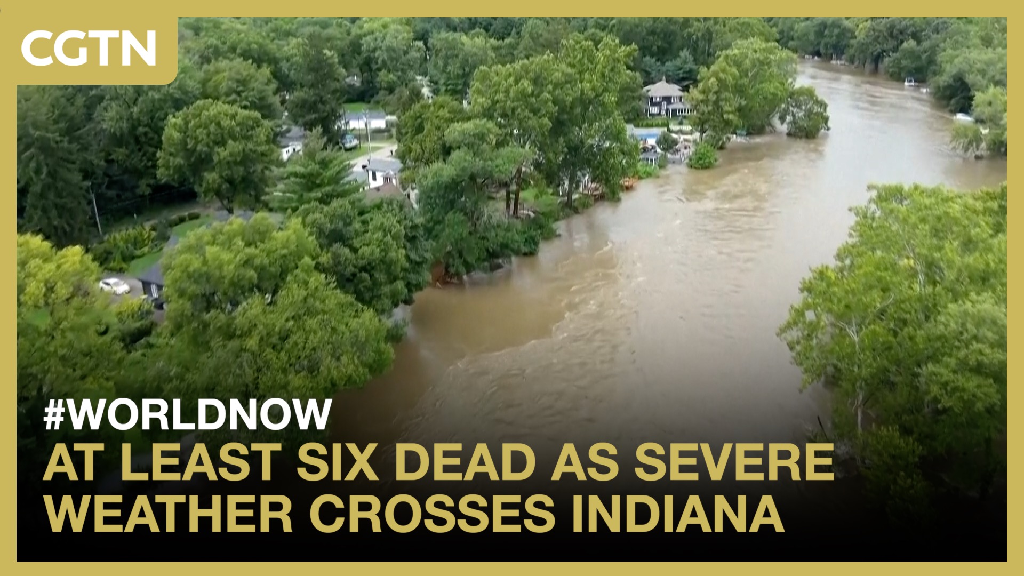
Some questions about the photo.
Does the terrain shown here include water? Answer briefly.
Yes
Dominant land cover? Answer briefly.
trees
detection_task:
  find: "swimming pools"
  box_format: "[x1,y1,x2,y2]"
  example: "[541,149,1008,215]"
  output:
[634,129,667,145]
